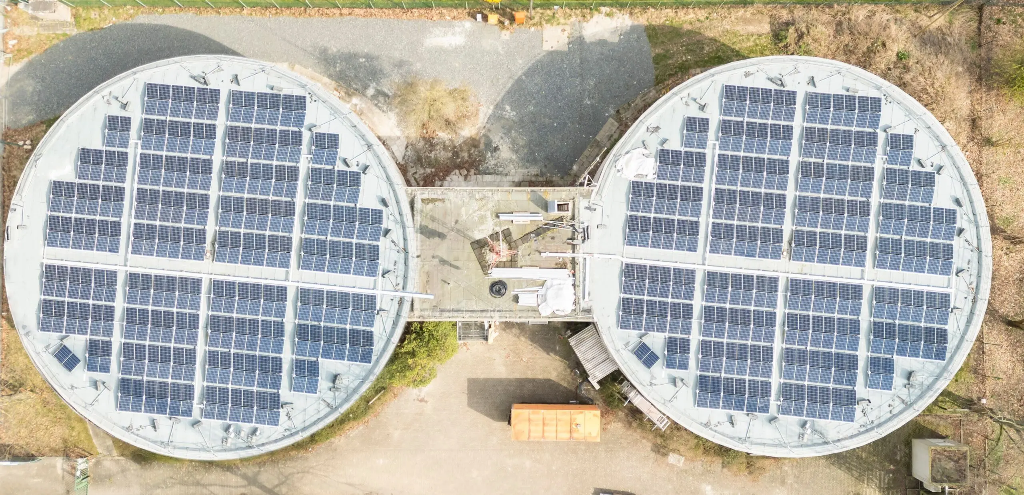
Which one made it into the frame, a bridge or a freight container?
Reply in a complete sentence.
I can see a freight container in this picture.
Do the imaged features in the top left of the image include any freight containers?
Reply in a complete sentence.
No, I can find no freight container in the top left of the image.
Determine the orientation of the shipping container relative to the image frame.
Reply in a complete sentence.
The shipping container runs horizontally in the image.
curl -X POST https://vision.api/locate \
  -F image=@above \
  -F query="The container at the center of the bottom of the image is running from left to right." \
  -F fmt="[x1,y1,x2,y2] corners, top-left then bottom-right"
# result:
[510,397,601,443]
